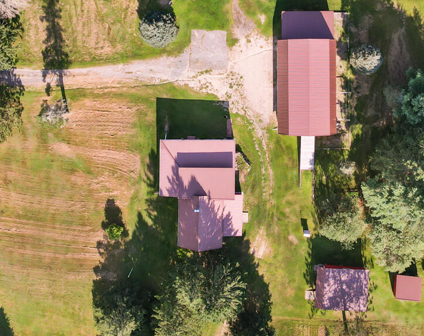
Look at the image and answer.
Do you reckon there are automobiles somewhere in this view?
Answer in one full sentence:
No, this view has no automobile in it.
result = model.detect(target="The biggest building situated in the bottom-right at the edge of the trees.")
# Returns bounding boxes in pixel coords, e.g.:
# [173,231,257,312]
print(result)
[305,261,369,311]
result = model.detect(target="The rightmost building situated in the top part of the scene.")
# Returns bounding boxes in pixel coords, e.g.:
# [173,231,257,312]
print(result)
[277,11,337,137]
